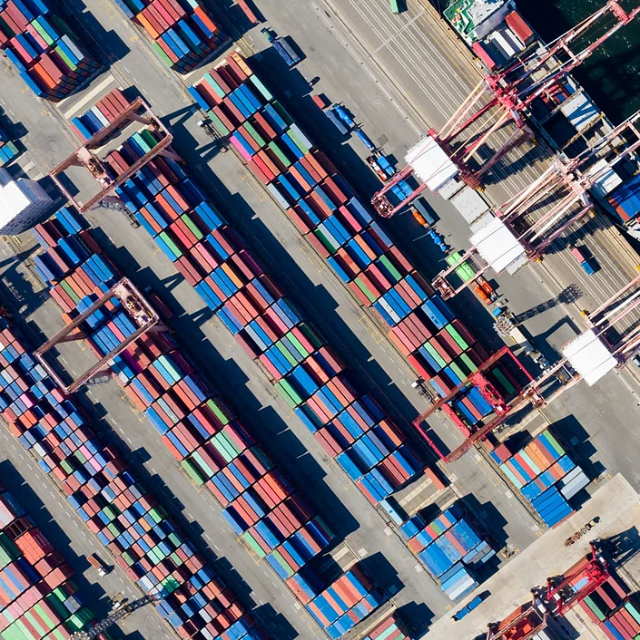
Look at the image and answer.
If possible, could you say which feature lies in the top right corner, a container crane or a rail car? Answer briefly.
container crane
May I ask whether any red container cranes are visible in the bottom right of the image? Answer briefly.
Yes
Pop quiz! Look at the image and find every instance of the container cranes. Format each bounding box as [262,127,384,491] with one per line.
[519,262,640,416]
[425,105,640,305]
[34,276,166,394]
[540,536,610,620]
[412,344,535,462]
[484,582,552,640]
[48,94,195,216]
[360,0,640,225]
